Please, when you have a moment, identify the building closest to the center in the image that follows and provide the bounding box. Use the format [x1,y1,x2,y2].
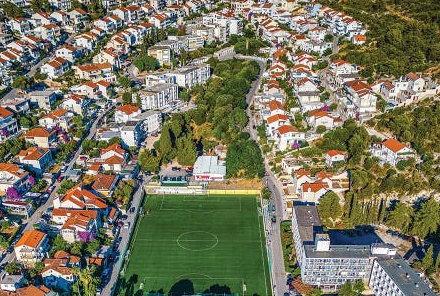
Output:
[193,159,226,186]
